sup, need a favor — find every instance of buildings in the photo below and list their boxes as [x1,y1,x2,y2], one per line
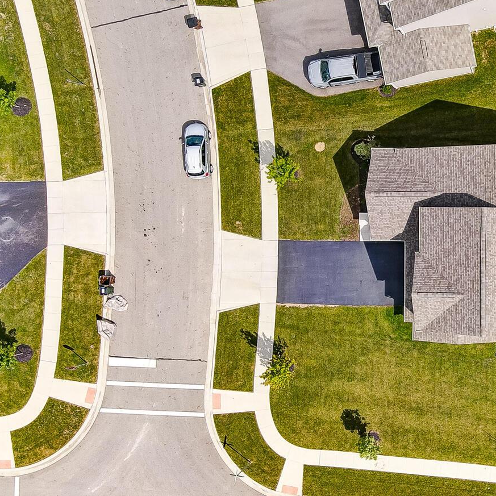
[365,144,496,344]
[358,0,496,89]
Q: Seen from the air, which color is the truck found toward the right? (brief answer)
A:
white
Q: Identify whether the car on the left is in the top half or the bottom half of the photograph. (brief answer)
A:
top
